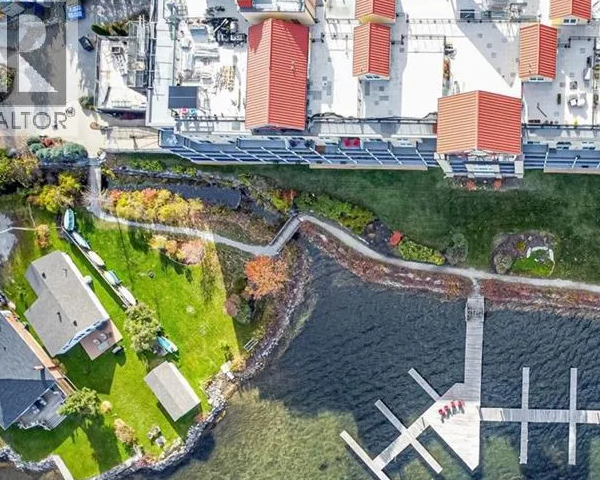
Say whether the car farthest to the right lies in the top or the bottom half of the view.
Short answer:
top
